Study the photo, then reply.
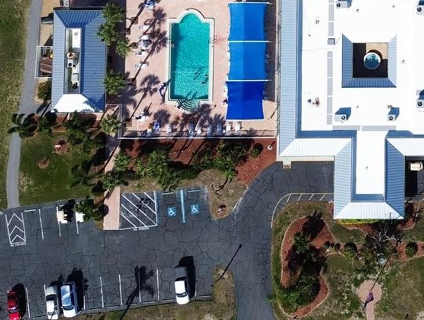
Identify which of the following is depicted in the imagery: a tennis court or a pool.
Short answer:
pool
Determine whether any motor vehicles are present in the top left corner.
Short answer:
No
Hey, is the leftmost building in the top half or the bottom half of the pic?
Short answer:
top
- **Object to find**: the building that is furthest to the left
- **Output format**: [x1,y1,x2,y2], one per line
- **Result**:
[51,10,110,112]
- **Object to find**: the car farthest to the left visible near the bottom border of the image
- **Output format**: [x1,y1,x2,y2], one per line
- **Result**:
[6,288,24,319]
